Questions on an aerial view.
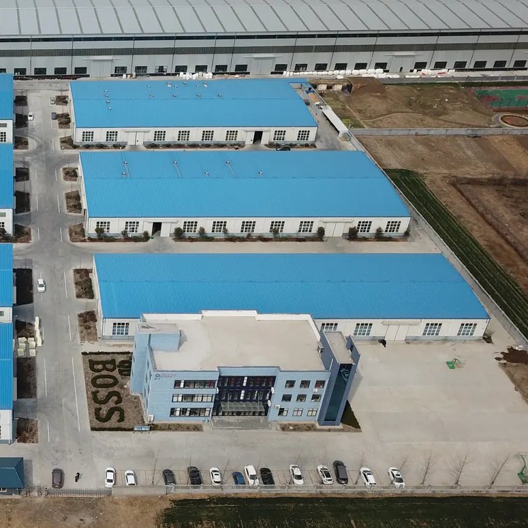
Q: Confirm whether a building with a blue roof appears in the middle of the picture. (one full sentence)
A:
Yes, in the middle of the picture there is a building with a blue roof.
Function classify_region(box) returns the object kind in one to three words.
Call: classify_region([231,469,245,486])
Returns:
vehicle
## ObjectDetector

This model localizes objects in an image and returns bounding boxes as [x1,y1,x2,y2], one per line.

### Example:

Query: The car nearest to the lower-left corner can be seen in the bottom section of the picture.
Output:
[50,467,63,490]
